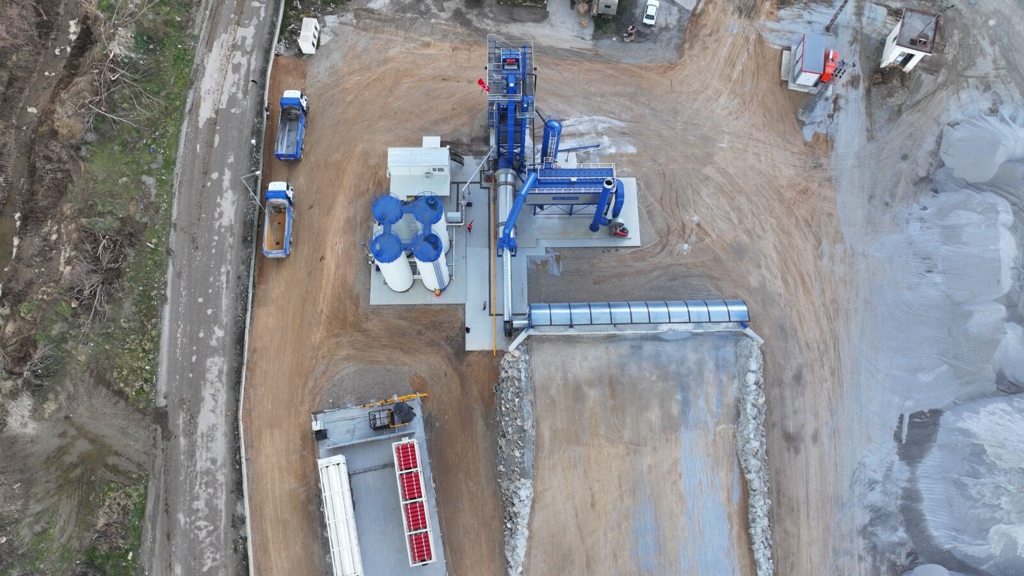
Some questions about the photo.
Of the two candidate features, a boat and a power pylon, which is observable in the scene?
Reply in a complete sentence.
Visible in the photo is a power pylon.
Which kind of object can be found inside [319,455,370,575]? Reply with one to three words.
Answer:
trailer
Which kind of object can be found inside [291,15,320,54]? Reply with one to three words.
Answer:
building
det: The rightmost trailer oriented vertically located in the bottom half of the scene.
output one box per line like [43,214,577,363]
[391,438,439,567]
